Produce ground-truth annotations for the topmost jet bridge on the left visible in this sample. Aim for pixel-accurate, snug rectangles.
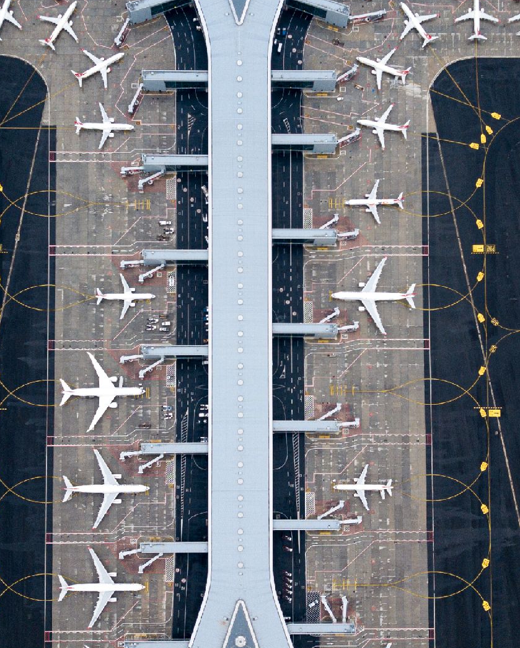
[114,0,195,49]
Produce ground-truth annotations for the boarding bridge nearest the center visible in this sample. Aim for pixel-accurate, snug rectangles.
[272,304,361,338]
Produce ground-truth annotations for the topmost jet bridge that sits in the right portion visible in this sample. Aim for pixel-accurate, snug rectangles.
[282,0,386,24]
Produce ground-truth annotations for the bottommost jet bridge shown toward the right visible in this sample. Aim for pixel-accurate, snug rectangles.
[286,592,354,634]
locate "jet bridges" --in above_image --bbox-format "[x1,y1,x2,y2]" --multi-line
[272,500,364,531]
[271,61,360,89]
[120,250,208,286]
[282,0,386,24]
[120,443,208,480]
[127,70,208,114]
[120,155,208,192]
[114,0,195,49]
[271,126,361,151]
[272,401,363,433]
[286,592,354,634]
[271,209,360,244]
[120,542,208,579]
[124,640,190,648]
[120,346,208,382]
[272,304,361,338]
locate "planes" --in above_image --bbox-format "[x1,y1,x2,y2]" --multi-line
[37,2,81,47]
[58,351,145,431]
[358,99,411,148]
[73,43,124,88]
[333,463,394,512]
[64,448,150,529]
[455,0,502,38]
[396,3,436,44]
[0,0,25,38]
[74,101,134,149]
[59,547,145,629]
[95,272,156,319]
[345,177,404,224]
[332,254,419,333]
[357,44,411,88]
